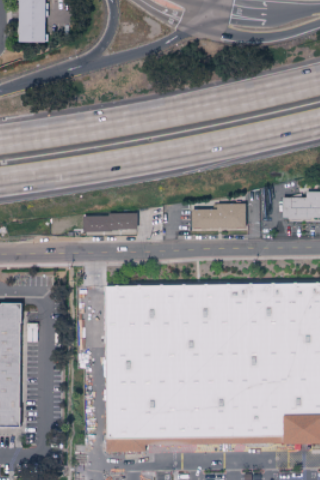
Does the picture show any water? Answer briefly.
No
